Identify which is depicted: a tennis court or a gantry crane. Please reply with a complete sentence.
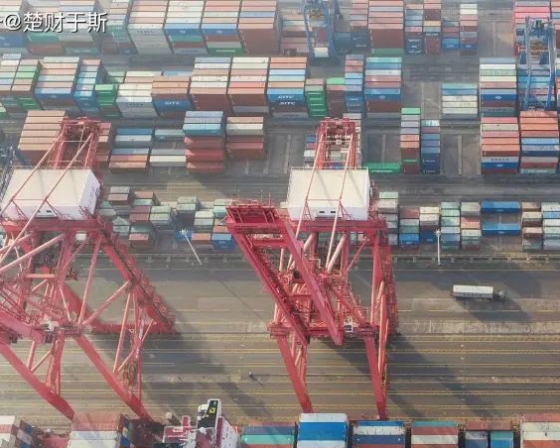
The image shows a gantry crane.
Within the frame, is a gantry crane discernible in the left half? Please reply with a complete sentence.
Yes, a gantry crane appears in the left half.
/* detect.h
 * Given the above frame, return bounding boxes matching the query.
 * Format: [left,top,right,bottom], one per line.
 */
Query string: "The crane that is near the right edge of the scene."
[517,6,558,86]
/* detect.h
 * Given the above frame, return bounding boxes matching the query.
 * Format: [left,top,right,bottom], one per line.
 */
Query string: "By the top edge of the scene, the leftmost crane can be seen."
[296,0,338,63]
